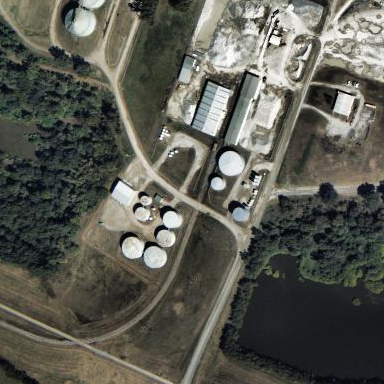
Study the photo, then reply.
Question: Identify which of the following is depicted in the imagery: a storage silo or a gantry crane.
storage silo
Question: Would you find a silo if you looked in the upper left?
Yes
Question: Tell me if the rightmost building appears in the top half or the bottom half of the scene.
top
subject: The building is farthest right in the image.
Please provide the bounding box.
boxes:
[333,92,355,116]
